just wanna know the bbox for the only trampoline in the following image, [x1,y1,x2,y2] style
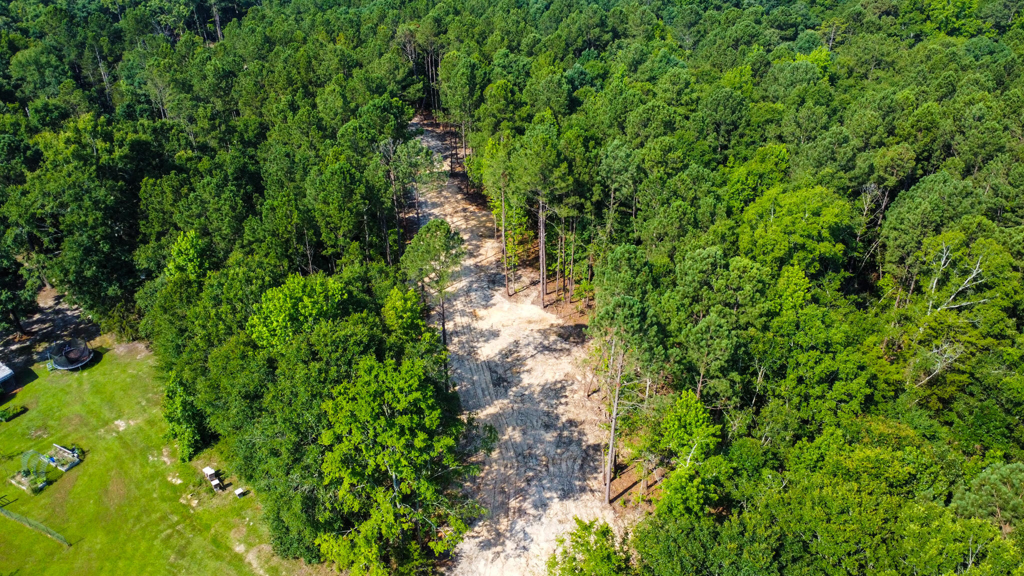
[38,330,95,377]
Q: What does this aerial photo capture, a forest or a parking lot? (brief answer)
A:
forest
